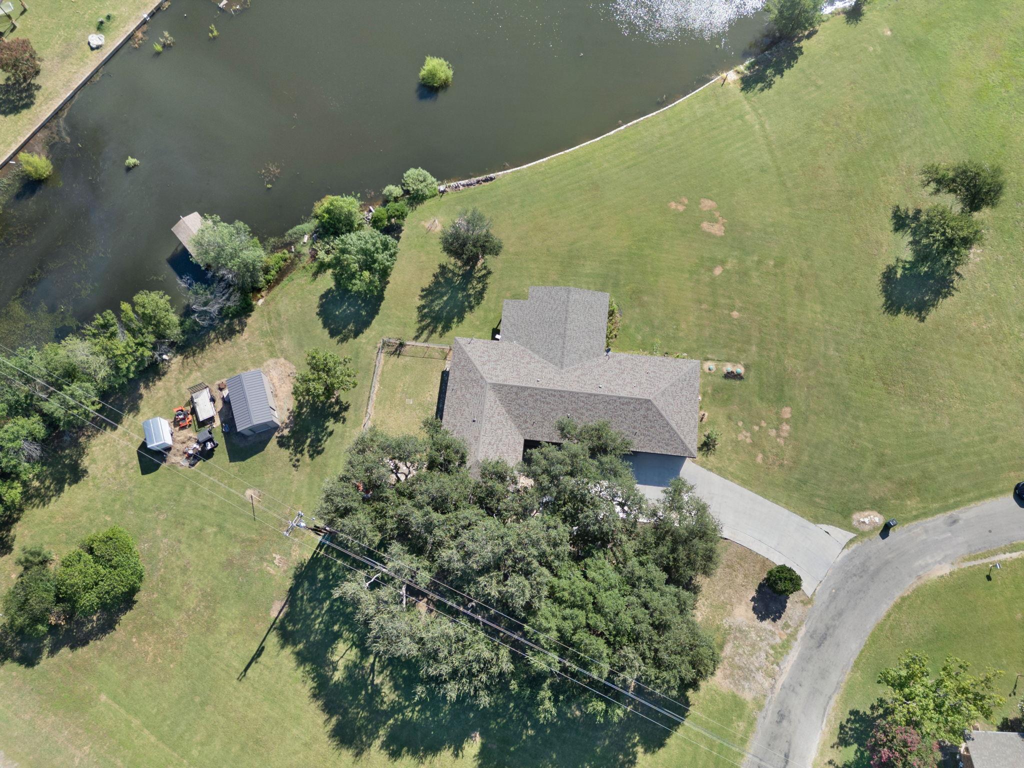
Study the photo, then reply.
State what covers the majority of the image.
grass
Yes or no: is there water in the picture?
Yes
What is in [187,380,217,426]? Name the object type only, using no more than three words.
trailer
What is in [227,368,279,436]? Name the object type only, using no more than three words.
shed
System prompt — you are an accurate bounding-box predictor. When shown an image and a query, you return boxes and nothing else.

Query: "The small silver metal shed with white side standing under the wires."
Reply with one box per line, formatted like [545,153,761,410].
[140,415,172,451]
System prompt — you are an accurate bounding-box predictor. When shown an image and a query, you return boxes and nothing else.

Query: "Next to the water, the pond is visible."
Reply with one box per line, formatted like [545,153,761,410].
[0,0,858,364]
